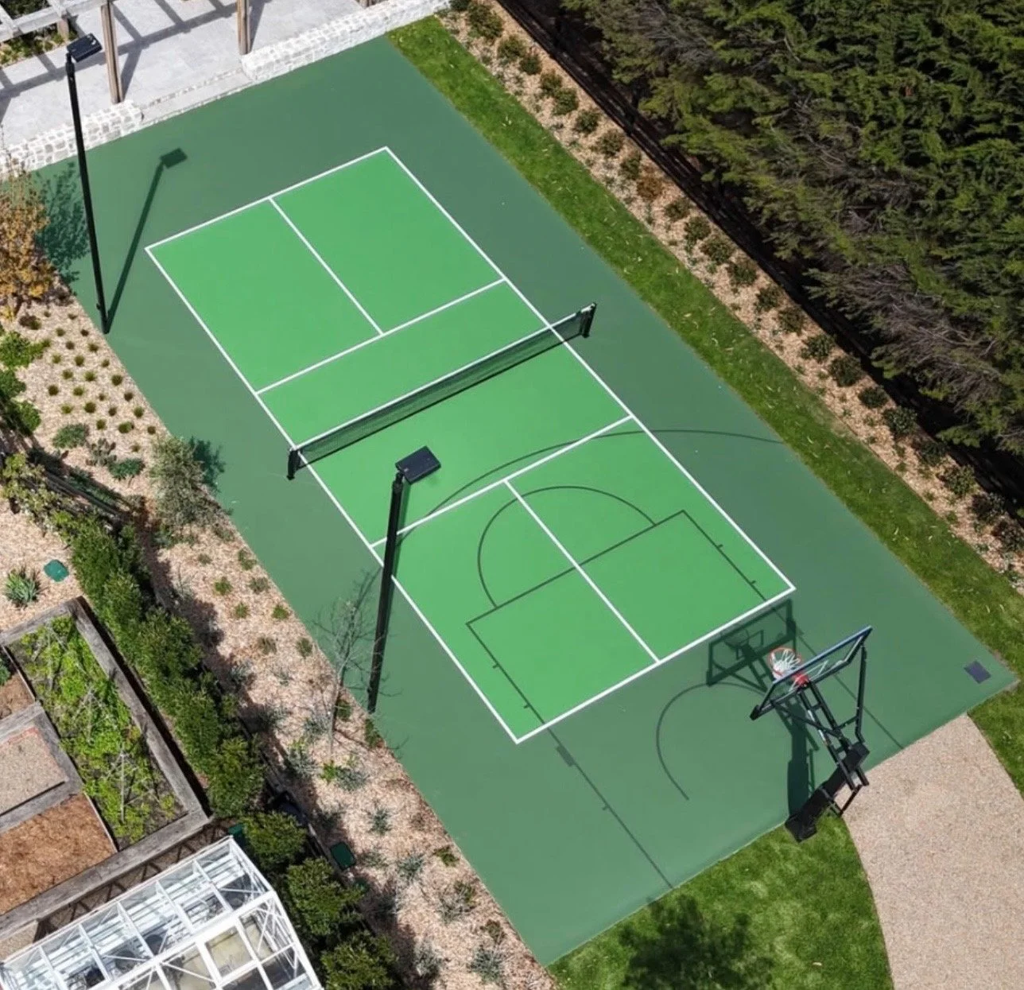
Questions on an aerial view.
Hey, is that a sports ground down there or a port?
sports ground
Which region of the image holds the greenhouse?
bottom left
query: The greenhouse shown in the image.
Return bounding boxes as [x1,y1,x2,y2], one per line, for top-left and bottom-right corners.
[0,837,324,990]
